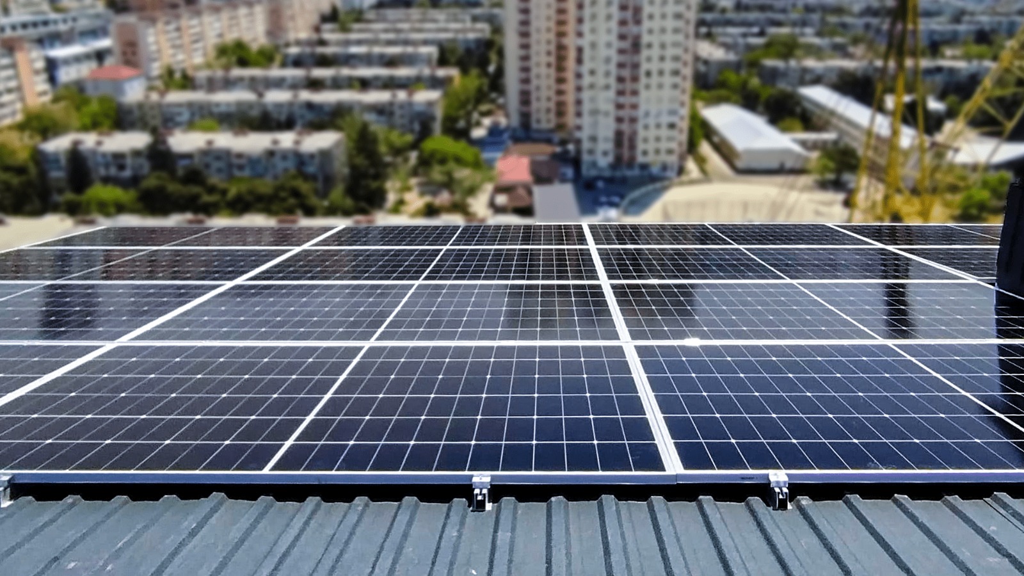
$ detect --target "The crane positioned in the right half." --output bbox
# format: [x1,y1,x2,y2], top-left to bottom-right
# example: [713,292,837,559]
[850,0,1024,224]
